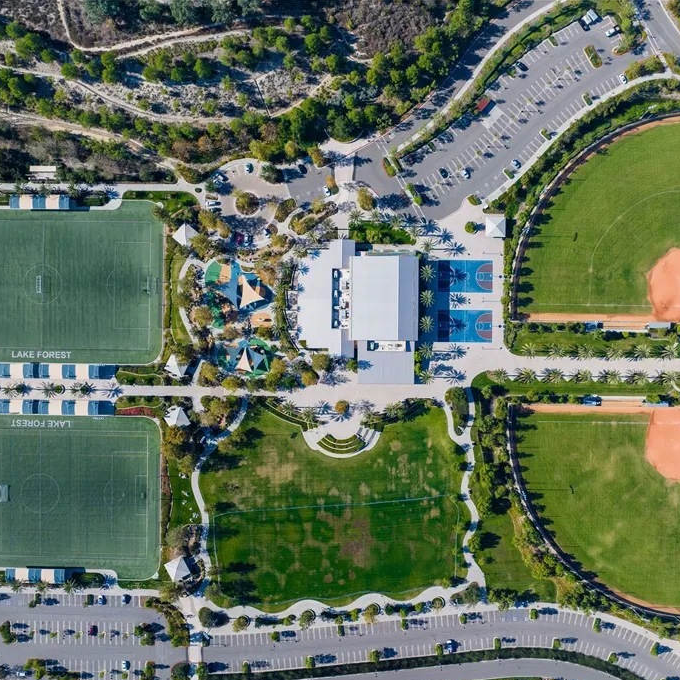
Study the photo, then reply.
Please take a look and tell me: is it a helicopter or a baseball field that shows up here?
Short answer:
baseball field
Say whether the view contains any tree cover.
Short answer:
Yes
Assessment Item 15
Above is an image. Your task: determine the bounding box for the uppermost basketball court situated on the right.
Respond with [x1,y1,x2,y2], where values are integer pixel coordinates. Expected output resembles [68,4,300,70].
[439,260,493,292]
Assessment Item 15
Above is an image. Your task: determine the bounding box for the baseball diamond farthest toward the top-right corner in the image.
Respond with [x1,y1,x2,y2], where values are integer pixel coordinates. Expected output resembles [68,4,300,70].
[509,115,680,323]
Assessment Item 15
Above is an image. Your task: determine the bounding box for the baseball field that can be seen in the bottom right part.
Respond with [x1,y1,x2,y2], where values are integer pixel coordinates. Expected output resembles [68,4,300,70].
[508,404,680,617]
